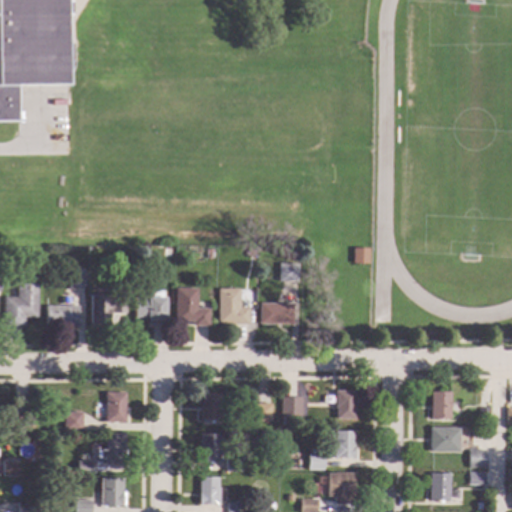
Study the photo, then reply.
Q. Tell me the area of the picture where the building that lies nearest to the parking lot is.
top left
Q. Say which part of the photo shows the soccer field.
top right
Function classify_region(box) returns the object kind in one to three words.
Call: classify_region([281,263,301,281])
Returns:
building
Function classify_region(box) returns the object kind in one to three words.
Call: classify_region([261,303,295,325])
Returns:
house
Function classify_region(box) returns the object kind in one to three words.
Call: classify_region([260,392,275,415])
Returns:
building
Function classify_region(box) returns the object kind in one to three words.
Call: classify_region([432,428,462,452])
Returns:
house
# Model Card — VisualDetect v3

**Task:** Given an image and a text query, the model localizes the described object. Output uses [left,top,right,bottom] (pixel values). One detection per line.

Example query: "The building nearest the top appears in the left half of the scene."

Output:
[0,0,75,122]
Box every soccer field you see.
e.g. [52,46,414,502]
[404,1,512,257]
